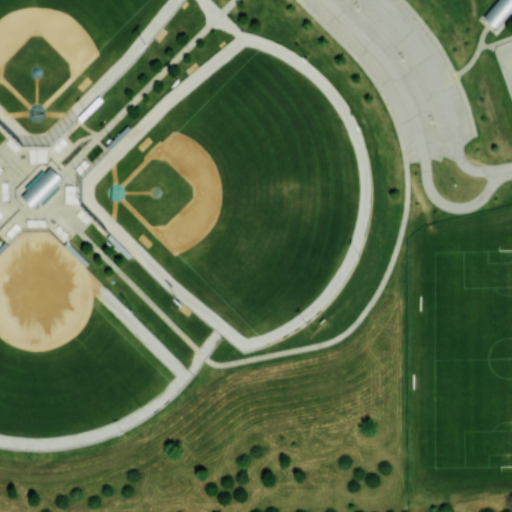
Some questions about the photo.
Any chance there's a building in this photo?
Yes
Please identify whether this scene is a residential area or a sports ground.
sports ground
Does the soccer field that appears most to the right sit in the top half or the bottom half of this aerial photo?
bottom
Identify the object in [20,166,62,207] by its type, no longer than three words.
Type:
building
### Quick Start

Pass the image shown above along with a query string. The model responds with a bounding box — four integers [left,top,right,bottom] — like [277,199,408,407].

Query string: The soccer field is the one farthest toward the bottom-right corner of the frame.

[428,246,512,474]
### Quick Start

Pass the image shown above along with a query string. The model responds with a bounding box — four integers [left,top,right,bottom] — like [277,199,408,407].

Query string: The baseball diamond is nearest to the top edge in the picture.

[0,0,186,146]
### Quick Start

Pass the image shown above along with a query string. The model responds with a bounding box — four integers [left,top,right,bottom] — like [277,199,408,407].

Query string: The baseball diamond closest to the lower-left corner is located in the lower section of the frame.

[0,232,194,452]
